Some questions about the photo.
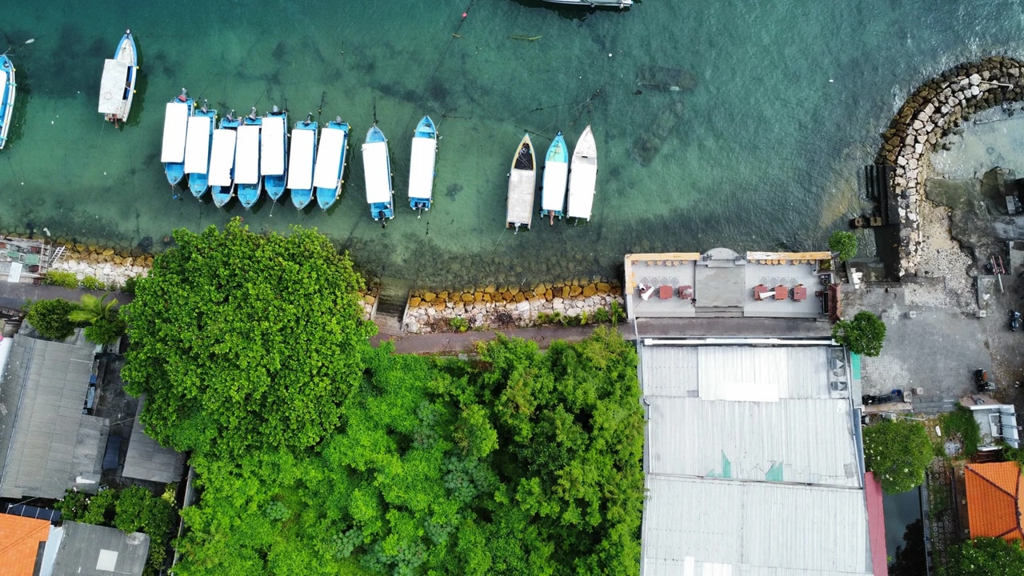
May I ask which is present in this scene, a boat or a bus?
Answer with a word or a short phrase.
boat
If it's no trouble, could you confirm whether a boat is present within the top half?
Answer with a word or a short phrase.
Yes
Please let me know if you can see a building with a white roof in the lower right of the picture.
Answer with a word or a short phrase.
Yes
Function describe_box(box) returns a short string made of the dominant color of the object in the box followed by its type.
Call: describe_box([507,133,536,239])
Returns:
white boat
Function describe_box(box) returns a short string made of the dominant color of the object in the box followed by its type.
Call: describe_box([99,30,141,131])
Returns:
white boat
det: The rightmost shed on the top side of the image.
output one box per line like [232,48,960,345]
[980,180,1024,216]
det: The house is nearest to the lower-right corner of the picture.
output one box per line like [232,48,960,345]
[952,461,1024,552]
